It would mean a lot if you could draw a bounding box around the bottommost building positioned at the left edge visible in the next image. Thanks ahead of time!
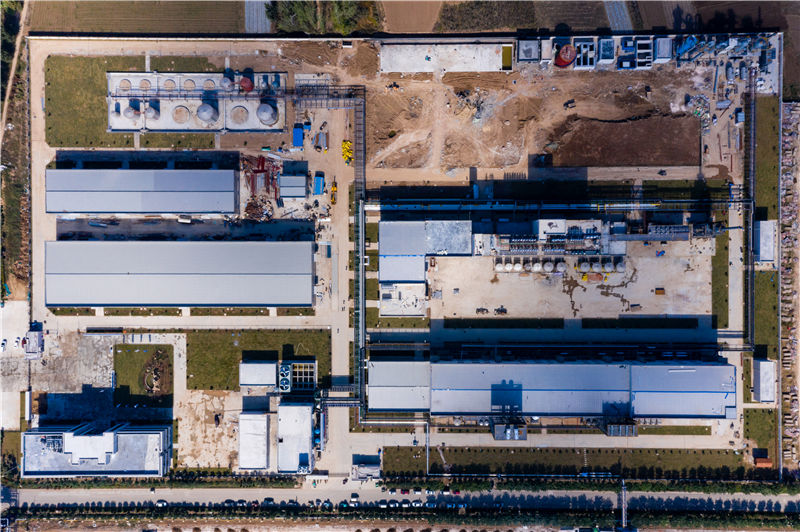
[21,416,172,477]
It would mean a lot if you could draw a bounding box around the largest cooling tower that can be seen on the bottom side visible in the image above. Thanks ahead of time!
[279,363,292,391]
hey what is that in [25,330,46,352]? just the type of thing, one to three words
building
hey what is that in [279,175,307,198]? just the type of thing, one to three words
shed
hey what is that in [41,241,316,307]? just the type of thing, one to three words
building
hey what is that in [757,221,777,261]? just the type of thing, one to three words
shed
